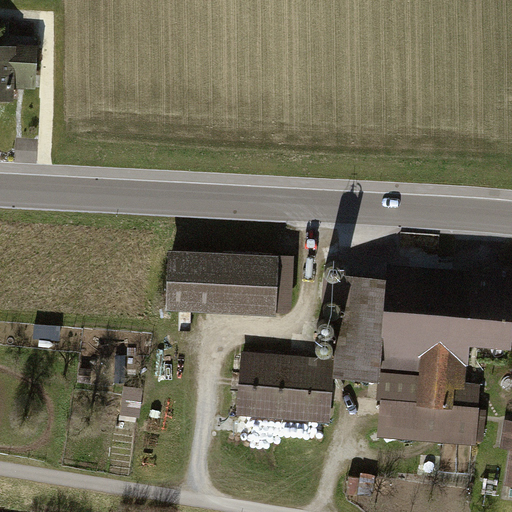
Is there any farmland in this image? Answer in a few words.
Yes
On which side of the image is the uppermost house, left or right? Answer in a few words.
left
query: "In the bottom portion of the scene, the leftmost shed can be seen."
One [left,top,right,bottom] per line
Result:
[33,325,61,341]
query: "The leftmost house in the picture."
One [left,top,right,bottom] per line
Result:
[0,44,38,103]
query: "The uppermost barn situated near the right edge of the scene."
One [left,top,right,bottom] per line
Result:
[382,266,512,372]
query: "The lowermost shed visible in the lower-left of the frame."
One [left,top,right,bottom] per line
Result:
[119,387,143,422]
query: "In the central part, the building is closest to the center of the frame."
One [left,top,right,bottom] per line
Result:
[165,250,294,316]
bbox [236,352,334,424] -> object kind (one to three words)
shed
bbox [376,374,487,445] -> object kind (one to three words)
building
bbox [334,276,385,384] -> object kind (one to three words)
shed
